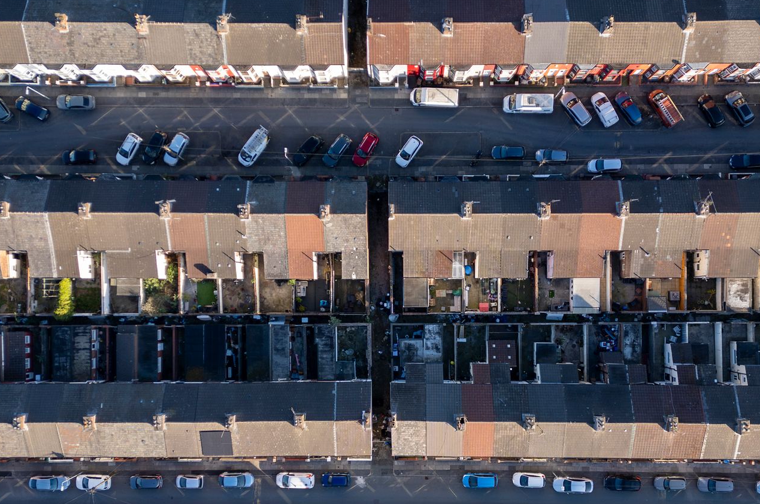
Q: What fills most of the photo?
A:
buildings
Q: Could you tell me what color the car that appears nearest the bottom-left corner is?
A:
blue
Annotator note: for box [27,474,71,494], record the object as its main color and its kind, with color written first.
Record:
blue car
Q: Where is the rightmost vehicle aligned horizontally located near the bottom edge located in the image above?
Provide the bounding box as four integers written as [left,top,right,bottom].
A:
[696,476,736,495]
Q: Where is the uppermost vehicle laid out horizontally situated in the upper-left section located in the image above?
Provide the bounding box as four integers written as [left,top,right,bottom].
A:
[56,93,97,111]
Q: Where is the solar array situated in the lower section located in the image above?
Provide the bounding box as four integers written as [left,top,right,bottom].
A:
[200,431,232,456]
